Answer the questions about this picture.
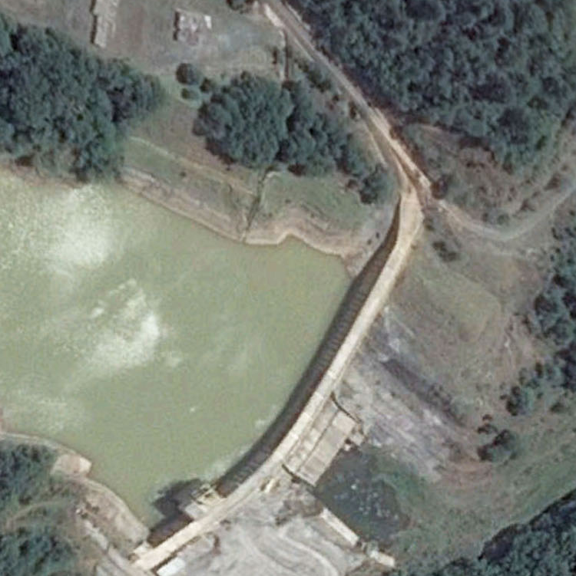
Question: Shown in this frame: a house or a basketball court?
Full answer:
This aerial view contains a house.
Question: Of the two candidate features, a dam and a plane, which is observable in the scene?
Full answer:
It is a dam that can be seen here.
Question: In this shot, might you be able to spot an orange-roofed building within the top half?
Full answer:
No, looking within the top half, there is no orange-roofed building.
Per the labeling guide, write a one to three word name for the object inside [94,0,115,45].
house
